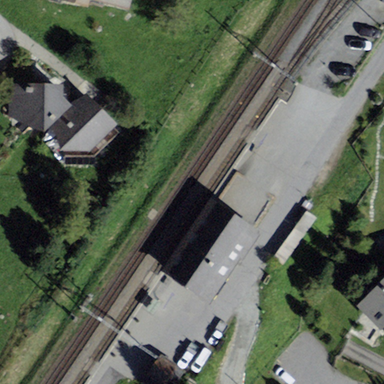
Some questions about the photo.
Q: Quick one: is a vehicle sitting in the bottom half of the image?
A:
Yes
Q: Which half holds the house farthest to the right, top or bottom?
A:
bottom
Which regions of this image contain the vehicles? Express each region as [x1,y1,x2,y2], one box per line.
[192,346,213,372]
[333,64,356,76]
[349,38,372,48]
[358,24,382,38]
[208,322,228,344]
[274,365,300,384]
[178,341,200,368]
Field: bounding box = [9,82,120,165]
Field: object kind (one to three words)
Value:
house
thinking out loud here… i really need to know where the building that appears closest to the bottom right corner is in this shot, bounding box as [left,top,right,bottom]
[359,268,384,330]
